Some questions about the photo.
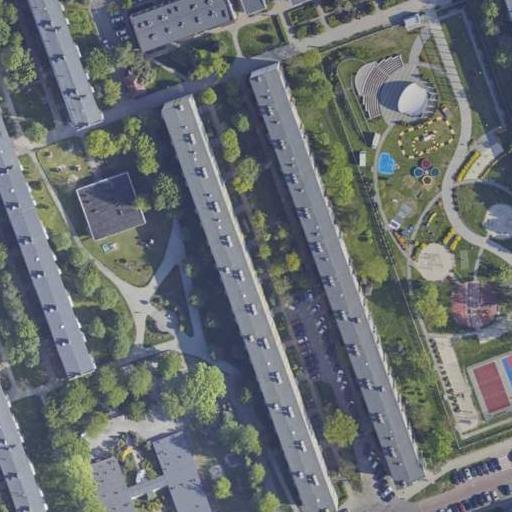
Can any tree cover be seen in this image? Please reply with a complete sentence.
Yes, tree cover can be seen from above here.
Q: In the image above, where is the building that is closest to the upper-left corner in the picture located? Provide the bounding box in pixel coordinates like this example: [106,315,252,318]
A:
[29,0,105,131]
